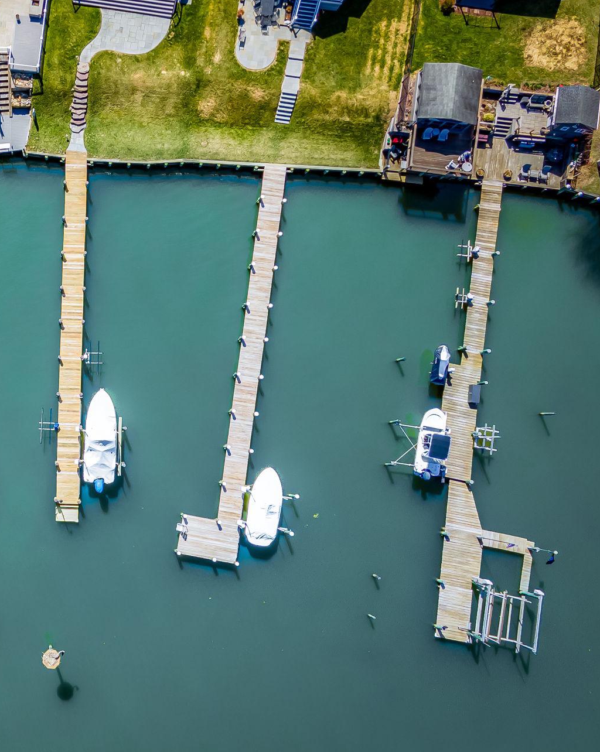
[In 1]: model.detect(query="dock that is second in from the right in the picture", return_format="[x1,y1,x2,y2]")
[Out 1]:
[172,168,287,566]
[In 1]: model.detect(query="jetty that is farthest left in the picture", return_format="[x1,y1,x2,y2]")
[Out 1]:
[53,158,89,522]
